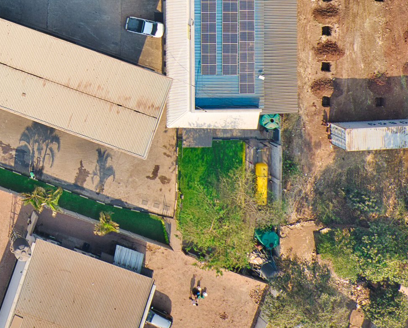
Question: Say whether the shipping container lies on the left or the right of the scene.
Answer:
right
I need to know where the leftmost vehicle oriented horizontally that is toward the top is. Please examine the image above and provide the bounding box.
[121,17,165,39]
